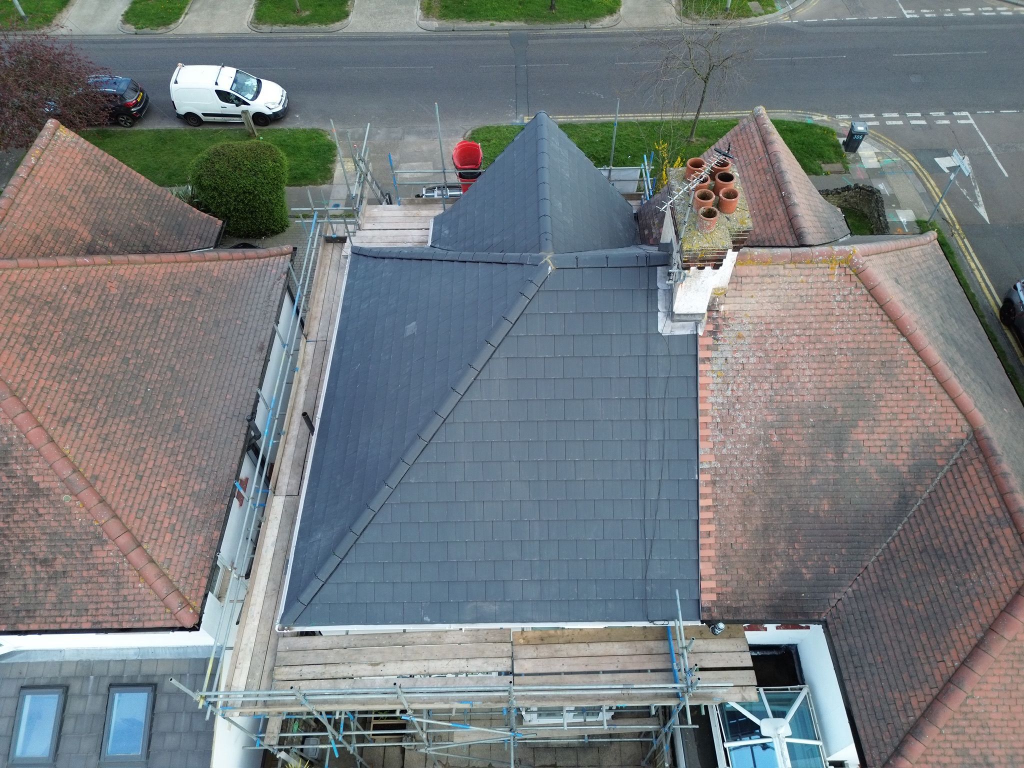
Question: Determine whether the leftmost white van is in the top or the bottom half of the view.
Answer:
top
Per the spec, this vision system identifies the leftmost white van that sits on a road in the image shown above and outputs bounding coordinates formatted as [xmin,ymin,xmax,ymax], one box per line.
[165,60,286,126]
